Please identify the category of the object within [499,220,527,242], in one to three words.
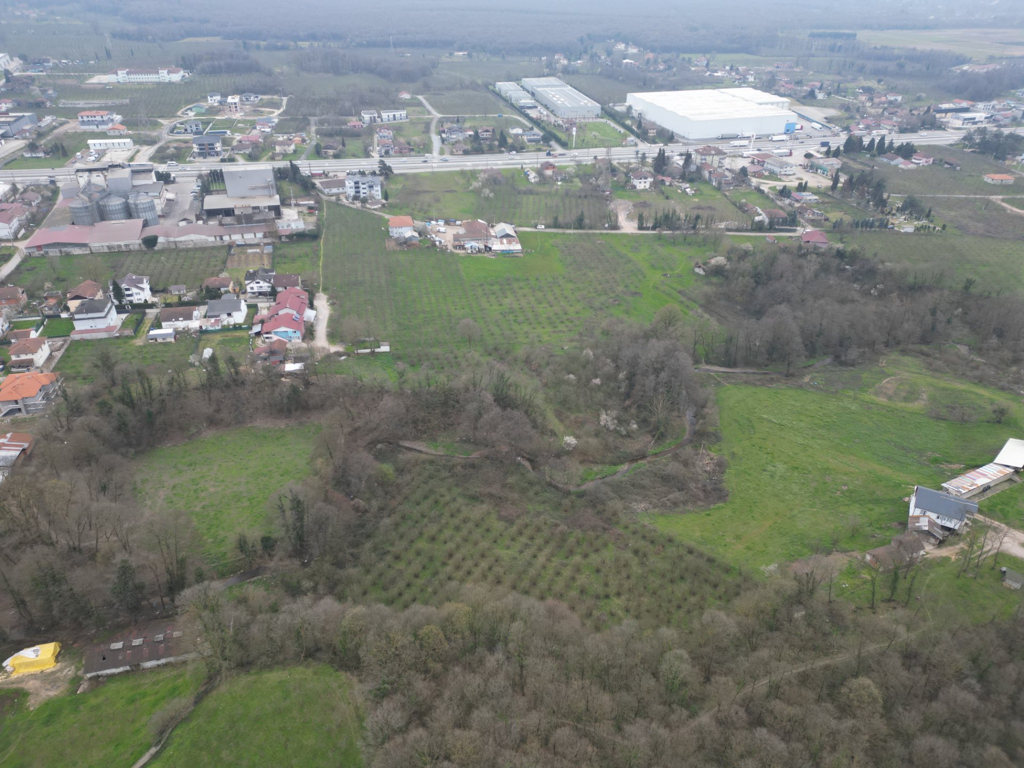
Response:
barn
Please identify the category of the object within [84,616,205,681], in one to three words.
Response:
shed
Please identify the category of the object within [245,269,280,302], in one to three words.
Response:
house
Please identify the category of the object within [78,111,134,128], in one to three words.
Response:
building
